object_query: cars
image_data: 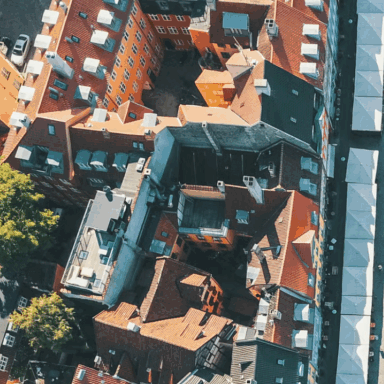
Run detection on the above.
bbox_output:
[7,33,33,67]
[0,32,15,58]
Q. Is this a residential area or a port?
residential area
